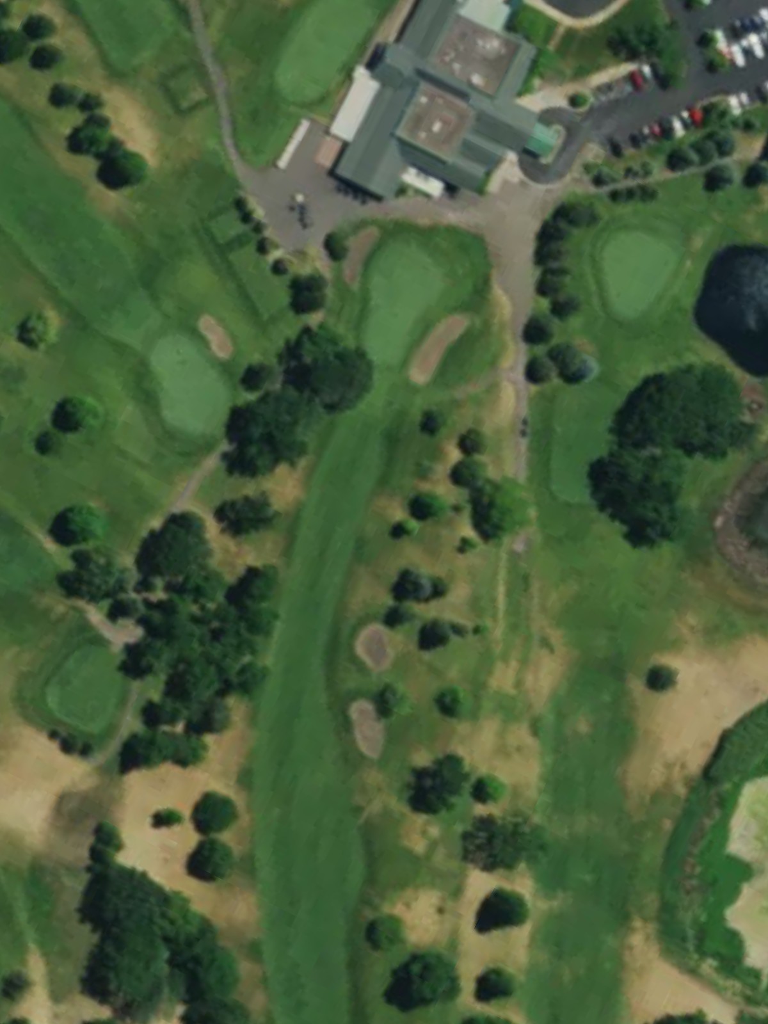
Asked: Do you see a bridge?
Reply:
No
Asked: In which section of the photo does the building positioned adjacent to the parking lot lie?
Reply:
top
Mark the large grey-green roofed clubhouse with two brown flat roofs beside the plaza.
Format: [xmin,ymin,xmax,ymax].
[320,0,561,199]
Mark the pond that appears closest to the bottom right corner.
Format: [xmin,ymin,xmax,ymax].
[725,777,768,970]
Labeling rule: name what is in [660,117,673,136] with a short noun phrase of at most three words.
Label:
vehicle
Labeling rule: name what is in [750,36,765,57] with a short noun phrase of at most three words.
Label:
vehicle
